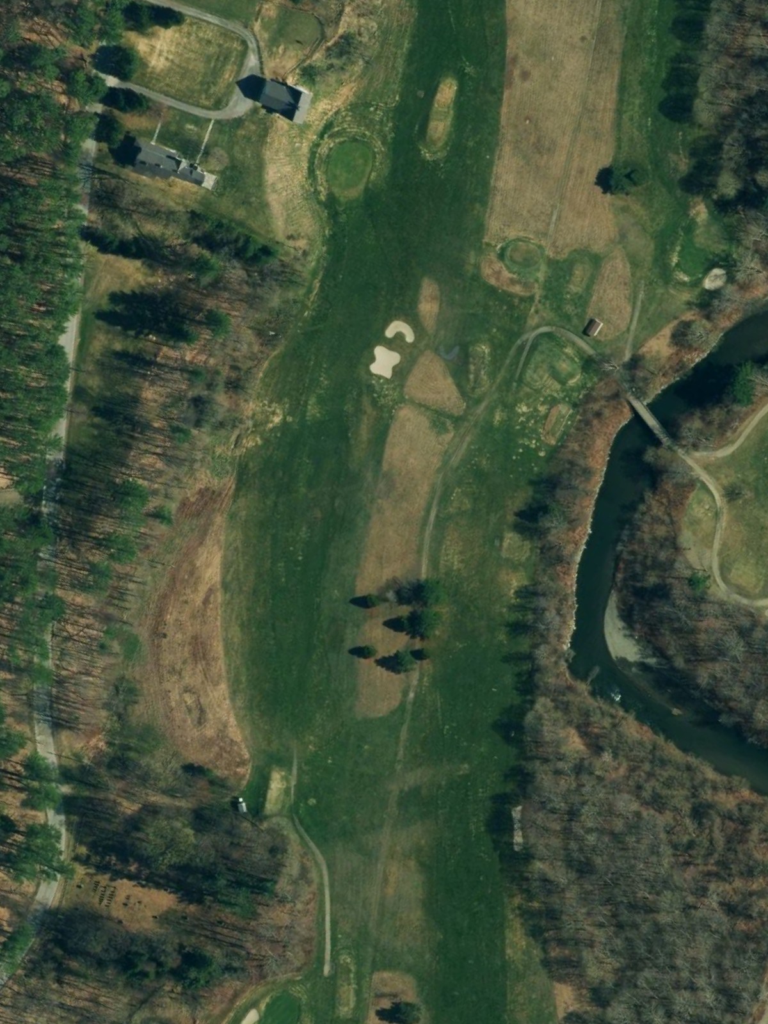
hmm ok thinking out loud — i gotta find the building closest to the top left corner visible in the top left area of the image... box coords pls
[135,140,217,190]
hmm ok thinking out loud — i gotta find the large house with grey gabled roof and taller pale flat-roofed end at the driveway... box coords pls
[258,78,315,126]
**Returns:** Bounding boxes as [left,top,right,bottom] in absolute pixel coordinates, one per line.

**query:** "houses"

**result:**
[135,140,217,190]
[258,78,315,126]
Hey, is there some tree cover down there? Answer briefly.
Yes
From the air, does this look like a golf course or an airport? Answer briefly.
golf course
